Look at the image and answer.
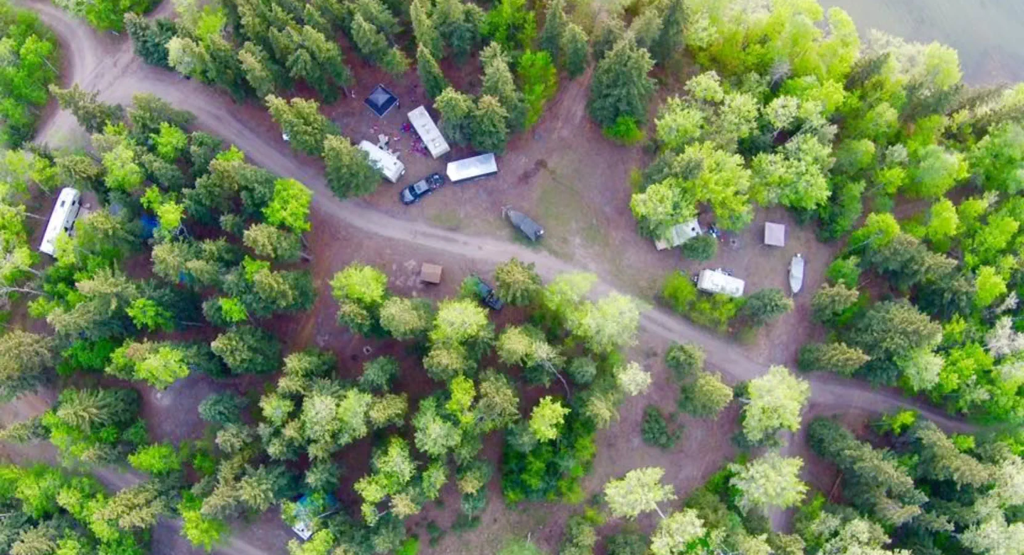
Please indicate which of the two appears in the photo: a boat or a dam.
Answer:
boat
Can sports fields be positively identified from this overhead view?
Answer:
No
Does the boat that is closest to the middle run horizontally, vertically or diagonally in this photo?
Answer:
diagonally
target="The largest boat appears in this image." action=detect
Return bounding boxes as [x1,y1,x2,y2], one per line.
[505,209,545,241]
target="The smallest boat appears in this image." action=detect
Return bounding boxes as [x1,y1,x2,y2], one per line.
[789,253,803,293]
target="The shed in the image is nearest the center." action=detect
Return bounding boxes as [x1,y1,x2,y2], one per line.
[421,263,445,284]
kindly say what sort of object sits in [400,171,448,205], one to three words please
truck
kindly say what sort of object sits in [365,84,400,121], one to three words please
gazebo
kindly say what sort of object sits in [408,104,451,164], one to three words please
trailer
